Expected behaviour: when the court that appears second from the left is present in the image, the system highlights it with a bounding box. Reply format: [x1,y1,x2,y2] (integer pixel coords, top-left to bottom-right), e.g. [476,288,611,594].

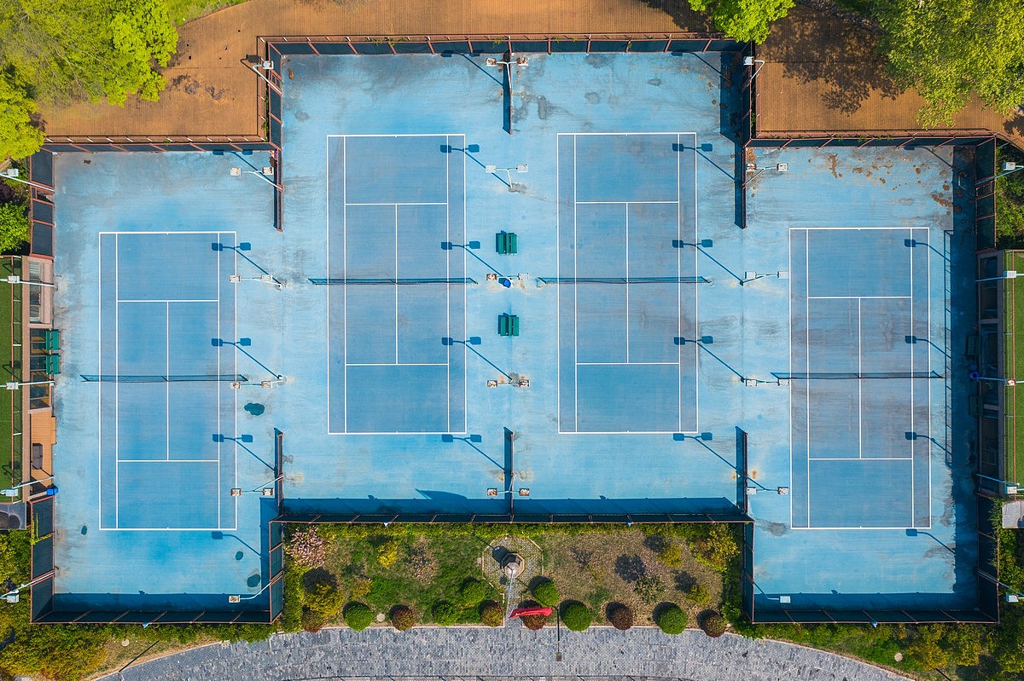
[327,133,466,434]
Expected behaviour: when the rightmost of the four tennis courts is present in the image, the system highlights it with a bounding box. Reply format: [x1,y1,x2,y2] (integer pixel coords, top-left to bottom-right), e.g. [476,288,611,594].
[789,227,931,530]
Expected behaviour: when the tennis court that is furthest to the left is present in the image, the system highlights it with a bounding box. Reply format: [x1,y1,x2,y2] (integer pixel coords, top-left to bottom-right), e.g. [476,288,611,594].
[99,231,237,531]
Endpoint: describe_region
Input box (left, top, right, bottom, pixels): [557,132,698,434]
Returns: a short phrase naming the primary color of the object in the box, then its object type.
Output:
blue tennis court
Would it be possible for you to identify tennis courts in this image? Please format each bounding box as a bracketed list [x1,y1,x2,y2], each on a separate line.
[789,227,931,530]
[327,133,466,434]
[99,231,237,531]
[557,132,698,434]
